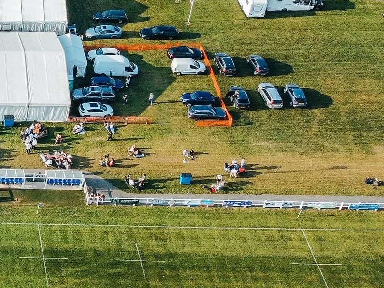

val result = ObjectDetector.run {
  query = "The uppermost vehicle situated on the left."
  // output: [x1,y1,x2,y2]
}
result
[93,10,130,25]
